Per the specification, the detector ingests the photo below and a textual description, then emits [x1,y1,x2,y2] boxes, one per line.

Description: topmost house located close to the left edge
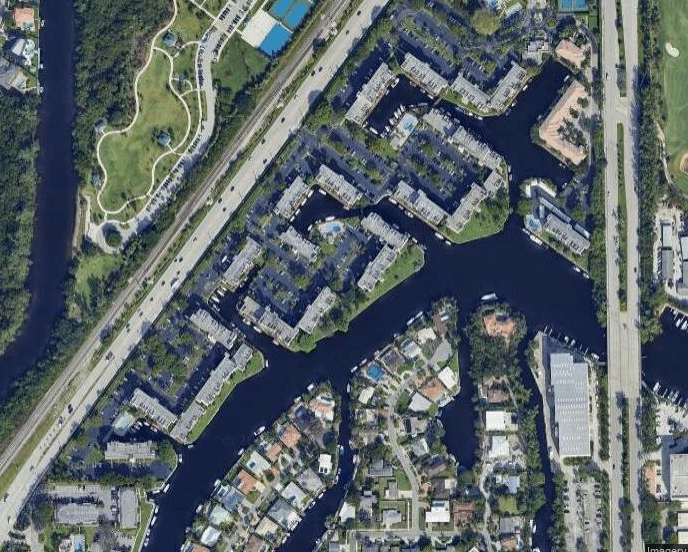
[14,6,34,26]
